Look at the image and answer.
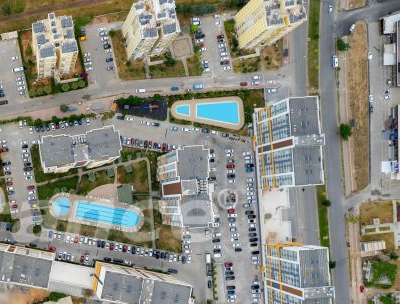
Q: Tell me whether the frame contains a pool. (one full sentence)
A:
Yes, the frame does contain a pool.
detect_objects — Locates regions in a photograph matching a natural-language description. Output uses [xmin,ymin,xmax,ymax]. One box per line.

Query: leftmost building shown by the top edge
[32,13,77,80]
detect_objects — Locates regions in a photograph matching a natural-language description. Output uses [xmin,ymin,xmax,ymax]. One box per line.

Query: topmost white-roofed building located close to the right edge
[377,13,400,38]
